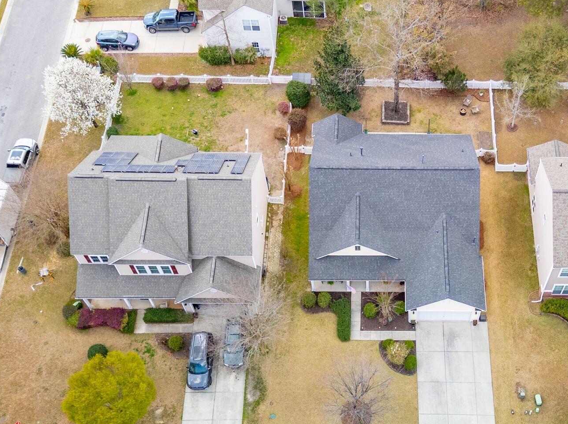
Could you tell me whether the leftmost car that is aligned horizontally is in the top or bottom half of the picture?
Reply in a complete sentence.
The leftmost car that is aligned horizontally is in the top half of the image.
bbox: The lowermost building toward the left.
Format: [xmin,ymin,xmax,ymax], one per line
[67,132,266,314]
